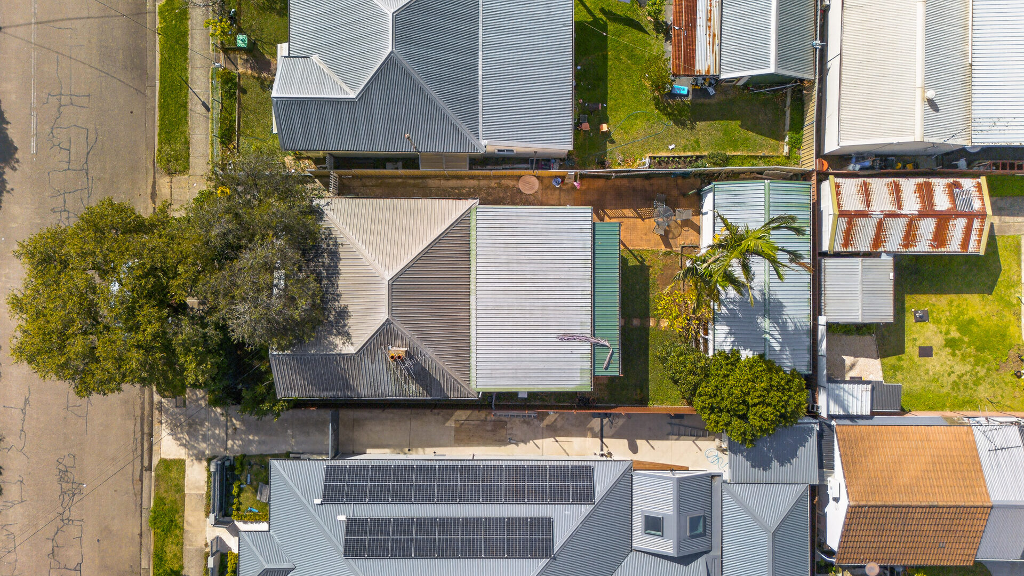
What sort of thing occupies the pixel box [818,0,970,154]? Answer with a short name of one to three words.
building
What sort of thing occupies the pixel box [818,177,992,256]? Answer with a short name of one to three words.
building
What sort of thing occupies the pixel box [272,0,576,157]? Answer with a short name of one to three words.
house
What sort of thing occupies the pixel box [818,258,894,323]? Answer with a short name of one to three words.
shed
